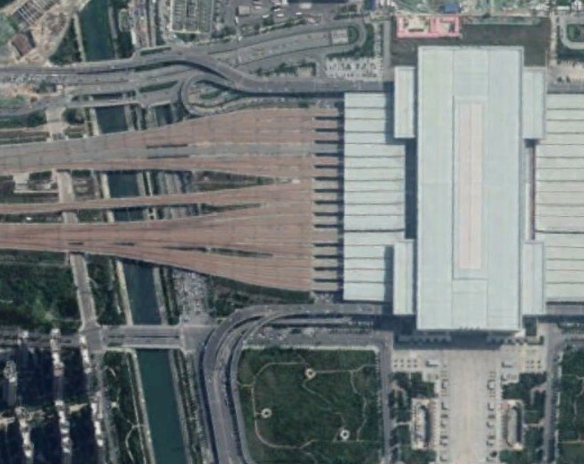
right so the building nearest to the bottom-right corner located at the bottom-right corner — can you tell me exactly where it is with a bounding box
[504,399,522,451]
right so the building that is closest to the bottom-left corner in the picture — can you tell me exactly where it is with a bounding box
[17,408,34,464]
